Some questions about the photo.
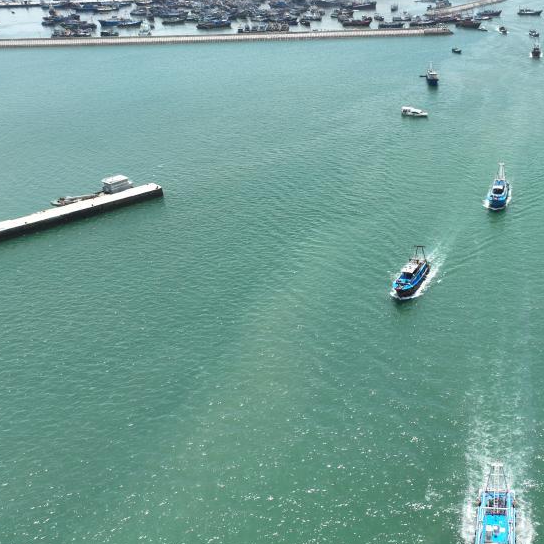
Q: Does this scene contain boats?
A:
Yes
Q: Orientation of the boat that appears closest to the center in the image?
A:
at an angle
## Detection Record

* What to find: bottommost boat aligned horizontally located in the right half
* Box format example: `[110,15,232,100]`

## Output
[399,104,428,117]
